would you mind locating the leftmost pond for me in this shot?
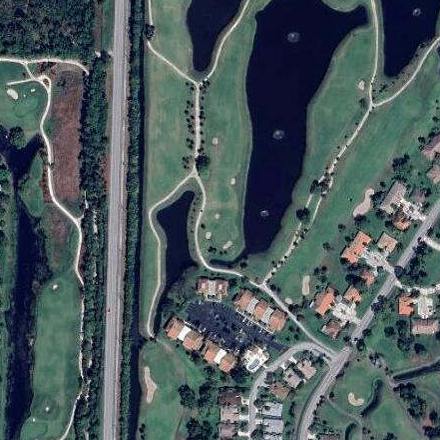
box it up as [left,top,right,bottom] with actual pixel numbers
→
[153,190,197,333]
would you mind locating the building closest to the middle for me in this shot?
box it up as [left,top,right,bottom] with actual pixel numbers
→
[197,279,227,301]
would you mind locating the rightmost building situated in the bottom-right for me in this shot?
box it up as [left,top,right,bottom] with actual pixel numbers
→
[412,316,439,336]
